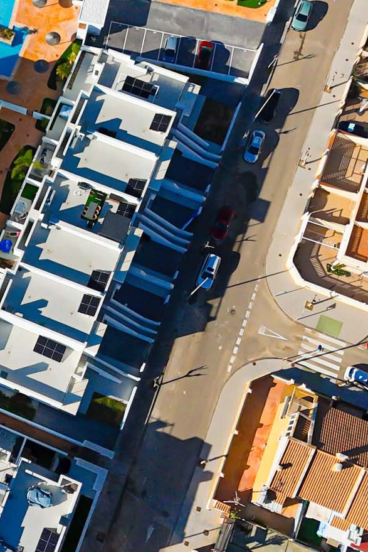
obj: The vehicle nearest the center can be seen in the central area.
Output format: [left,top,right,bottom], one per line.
[194,252,222,293]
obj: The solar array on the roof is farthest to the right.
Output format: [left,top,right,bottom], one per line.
[146,111,169,132]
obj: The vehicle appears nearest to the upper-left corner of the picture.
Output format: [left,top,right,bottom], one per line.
[161,35,181,67]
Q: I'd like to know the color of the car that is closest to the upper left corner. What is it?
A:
blue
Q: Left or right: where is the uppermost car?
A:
right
